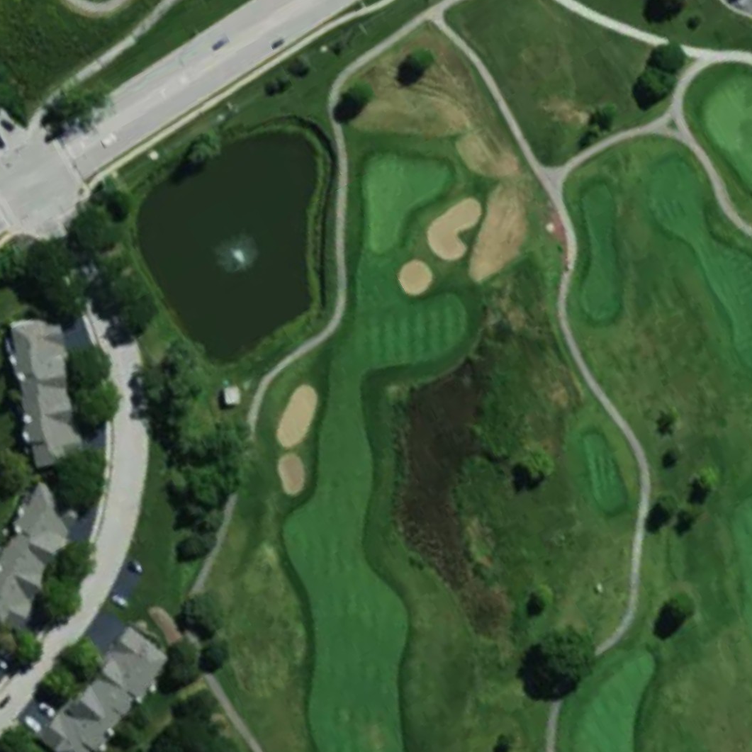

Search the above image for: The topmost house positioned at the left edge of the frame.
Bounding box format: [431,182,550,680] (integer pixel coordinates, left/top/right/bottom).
[9,316,83,472]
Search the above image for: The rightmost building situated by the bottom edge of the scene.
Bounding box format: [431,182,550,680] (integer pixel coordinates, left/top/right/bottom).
[40,628,163,752]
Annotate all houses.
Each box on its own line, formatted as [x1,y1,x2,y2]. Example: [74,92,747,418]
[0,478,68,632]
[9,316,83,472]
[40,628,163,752]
